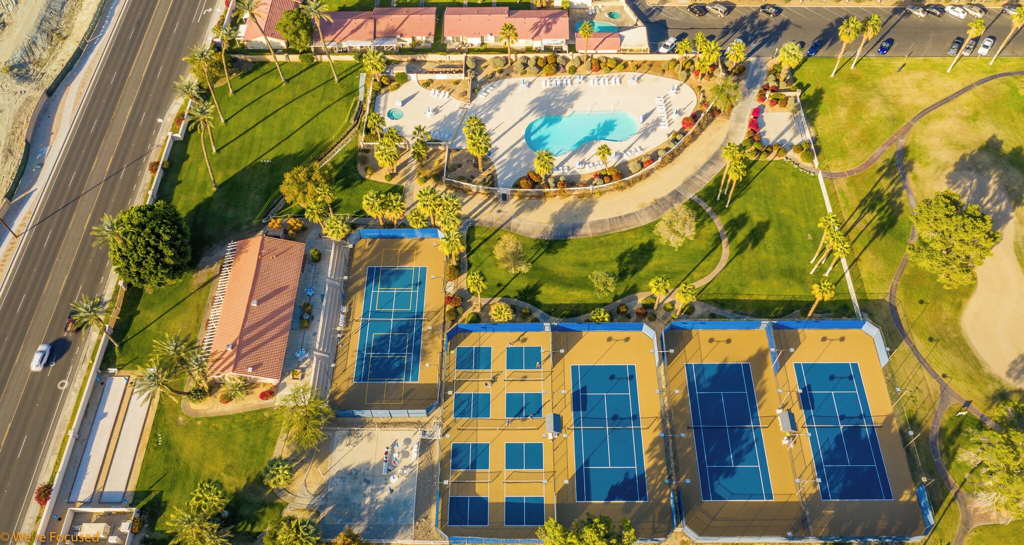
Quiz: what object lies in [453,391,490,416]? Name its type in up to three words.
sports court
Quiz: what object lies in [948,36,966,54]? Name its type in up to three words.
vehicle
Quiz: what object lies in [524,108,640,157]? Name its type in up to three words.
swimming pool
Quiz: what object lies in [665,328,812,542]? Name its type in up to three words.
tennis court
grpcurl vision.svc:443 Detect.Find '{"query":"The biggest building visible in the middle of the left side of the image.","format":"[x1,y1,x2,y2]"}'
[206,235,305,383]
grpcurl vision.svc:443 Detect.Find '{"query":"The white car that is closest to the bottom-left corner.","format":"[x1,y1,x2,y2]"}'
[30,344,50,369]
